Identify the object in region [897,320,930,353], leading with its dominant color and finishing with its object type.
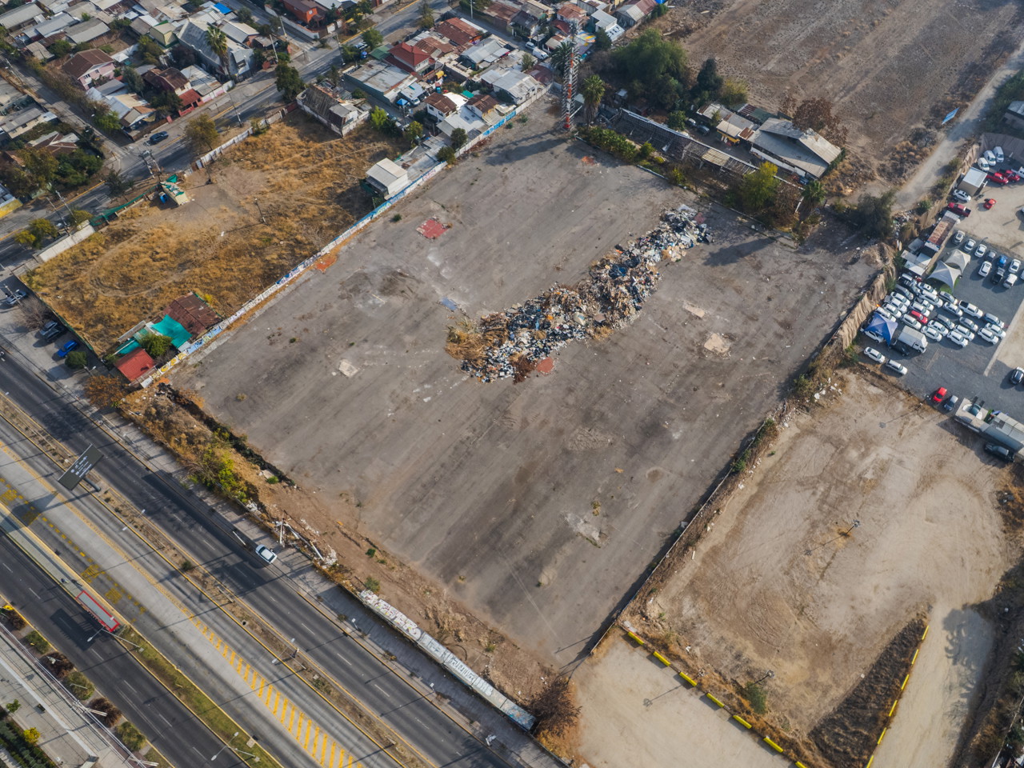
white truck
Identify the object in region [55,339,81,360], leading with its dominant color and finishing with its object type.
blue car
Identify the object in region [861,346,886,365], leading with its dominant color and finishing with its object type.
white car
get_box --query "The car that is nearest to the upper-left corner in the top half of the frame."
[149,131,168,144]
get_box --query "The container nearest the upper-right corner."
[920,215,959,256]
